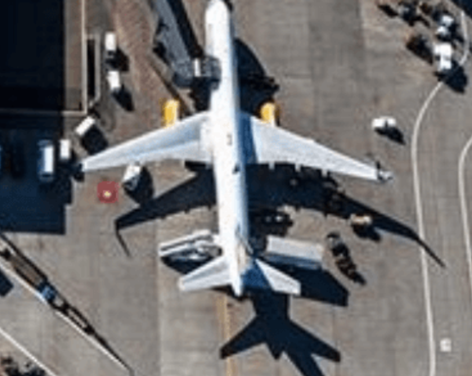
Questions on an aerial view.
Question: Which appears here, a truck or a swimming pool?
truck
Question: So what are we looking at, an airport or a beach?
airport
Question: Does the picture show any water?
No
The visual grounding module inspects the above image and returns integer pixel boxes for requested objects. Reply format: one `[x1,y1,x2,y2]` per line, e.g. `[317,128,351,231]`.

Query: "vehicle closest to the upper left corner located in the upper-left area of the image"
[102,33,119,67]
